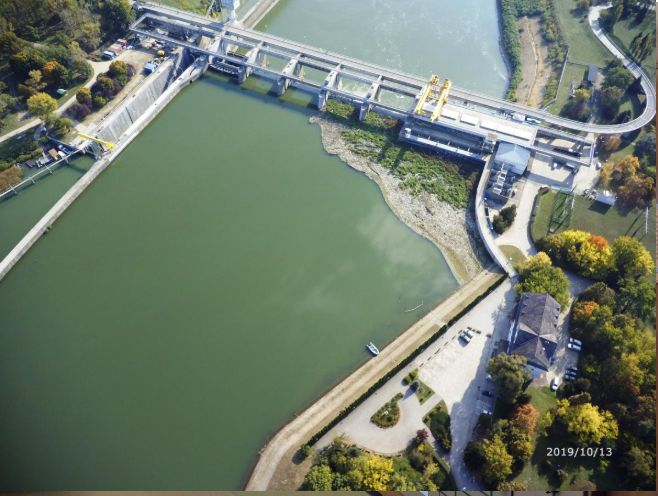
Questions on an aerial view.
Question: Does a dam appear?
Yes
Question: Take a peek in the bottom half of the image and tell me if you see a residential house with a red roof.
No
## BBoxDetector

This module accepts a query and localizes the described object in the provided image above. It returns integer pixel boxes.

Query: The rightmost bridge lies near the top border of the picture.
[136,0,658,139]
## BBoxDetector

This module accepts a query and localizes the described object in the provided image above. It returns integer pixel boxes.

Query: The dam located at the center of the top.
[188,30,420,122]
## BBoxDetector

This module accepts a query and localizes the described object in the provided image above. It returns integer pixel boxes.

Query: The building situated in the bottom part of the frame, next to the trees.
[492,294,560,384]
